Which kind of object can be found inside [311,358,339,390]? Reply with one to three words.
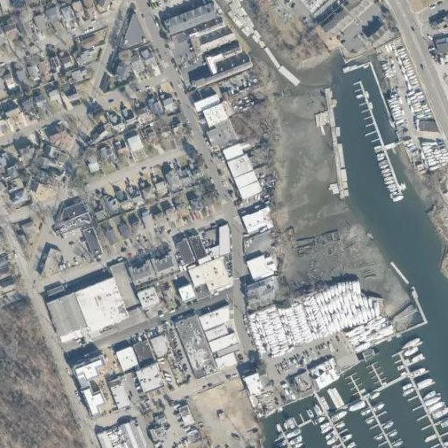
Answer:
building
